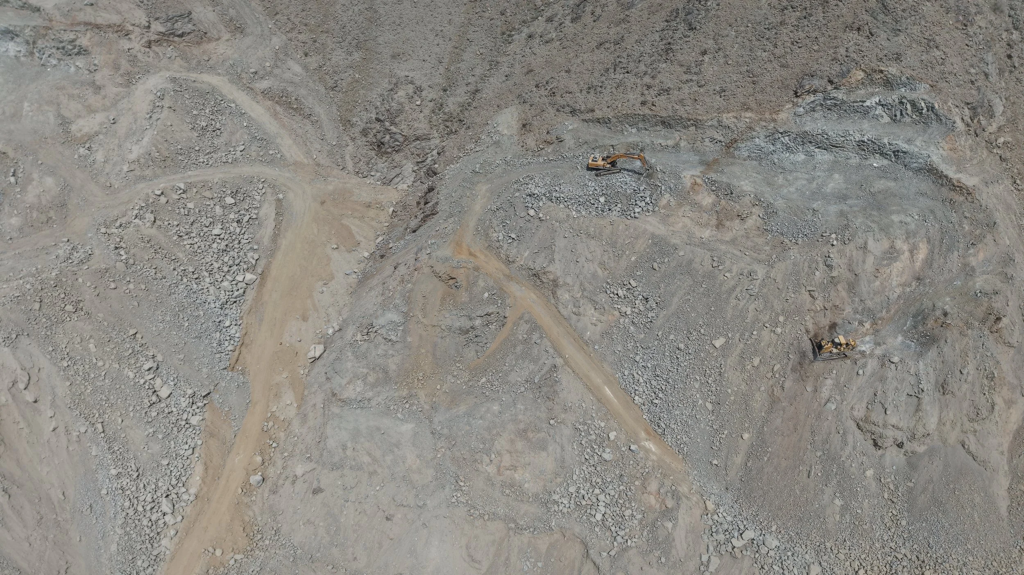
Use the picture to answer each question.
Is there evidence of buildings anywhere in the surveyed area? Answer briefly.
No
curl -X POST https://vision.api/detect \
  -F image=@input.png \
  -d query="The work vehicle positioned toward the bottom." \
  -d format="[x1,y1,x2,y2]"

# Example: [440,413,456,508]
[808,333,858,364]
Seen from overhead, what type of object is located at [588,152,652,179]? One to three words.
work vehicle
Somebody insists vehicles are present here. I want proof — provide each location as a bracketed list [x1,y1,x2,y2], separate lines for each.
[808,333,858,364]
[588,152,652,179]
